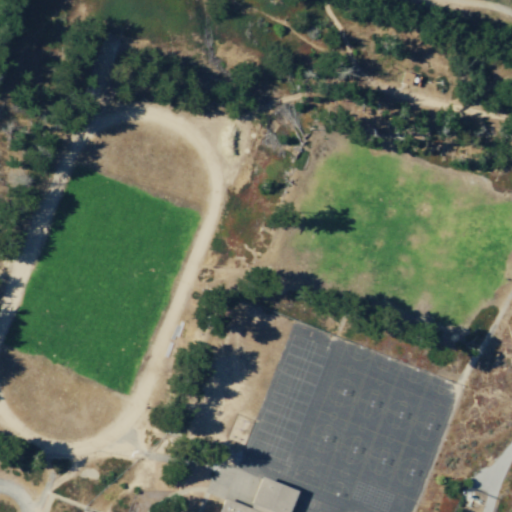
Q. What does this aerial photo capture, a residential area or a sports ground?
sports ground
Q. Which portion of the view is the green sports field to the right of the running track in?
right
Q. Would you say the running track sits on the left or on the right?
left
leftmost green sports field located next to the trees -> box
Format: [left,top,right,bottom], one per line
[8,170,201,395]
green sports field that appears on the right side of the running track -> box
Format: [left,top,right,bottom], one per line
[288,140,512,327]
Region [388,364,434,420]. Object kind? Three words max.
basketball court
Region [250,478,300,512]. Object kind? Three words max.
building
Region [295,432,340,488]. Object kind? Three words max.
basketball court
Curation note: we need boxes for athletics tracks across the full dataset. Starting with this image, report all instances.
[0,97,224,463]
